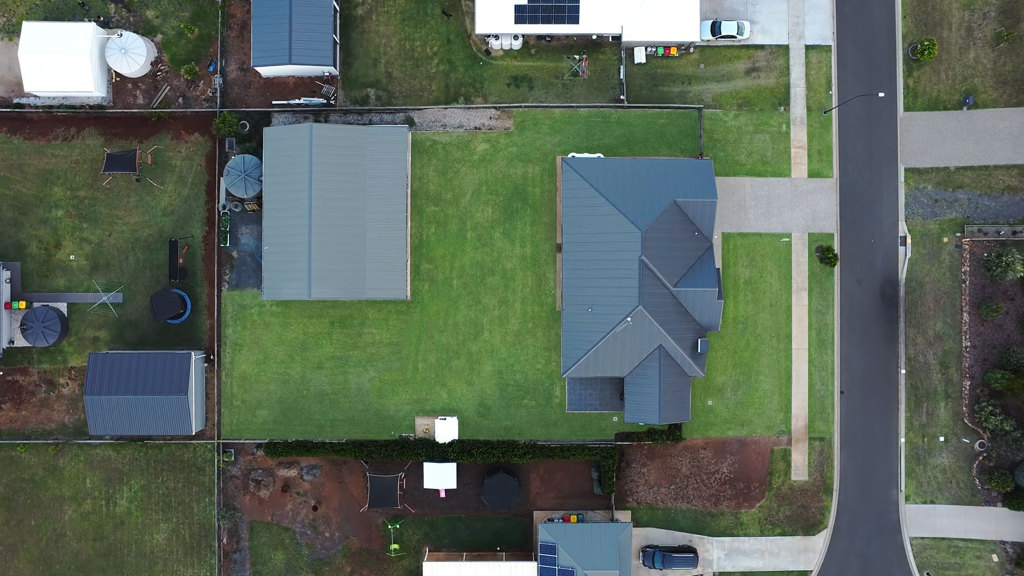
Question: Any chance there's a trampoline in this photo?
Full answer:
Yes, a trampoline is visible in the scene.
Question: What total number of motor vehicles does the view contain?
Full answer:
The number of motor vehicles here is 2.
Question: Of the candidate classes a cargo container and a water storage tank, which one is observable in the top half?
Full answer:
Visible in the top half is a water storage tank.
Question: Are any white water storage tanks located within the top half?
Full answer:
Yes, looking within the top half, one can make out a white water storage tank.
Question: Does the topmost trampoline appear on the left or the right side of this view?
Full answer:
It is on the left.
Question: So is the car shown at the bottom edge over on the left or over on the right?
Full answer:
The car shown at the bottom edge sits on the right side.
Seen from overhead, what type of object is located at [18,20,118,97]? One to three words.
shed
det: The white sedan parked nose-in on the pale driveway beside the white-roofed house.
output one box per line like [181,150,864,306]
[700,17,755,43]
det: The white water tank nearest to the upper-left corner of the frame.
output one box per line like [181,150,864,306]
[105,31,154,79]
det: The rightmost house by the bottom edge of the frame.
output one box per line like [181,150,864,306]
[537,520,634,576]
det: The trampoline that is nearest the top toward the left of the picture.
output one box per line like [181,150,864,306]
[151,289,191,324]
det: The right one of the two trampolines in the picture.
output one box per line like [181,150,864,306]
[481,467,521,511]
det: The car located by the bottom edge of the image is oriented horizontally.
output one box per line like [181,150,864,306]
[641,543,698,570]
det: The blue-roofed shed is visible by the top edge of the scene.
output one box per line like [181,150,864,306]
[250,0,342,77]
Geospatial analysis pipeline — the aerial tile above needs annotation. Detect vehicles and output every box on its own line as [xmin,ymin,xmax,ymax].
[700,17,755,43]
[641,543,698,570]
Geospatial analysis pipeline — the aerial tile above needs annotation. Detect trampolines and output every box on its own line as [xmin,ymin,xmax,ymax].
[481,467,521,511]
[151,289,191,324]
